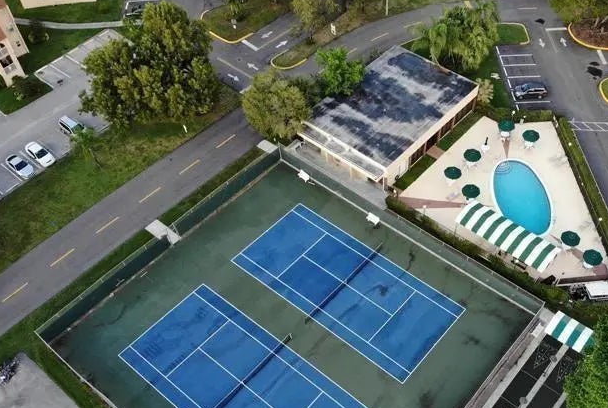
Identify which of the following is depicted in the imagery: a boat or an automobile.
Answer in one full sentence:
Visible in the photo is an automobile.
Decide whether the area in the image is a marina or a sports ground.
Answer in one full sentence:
The picture captures a sports ground.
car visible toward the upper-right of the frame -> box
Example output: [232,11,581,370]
[513,82,549,100]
